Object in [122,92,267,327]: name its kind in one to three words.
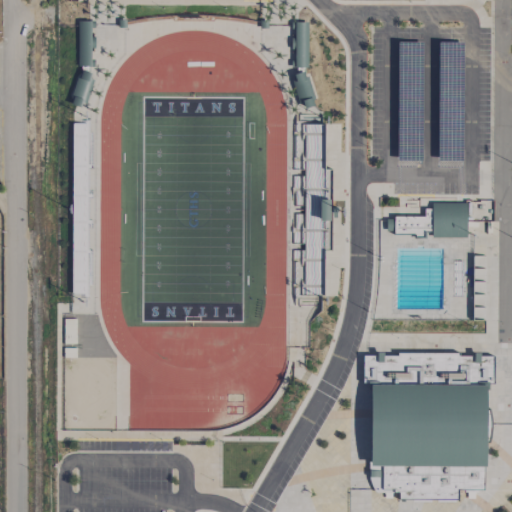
sports field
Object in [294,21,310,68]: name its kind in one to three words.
building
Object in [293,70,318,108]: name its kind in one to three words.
building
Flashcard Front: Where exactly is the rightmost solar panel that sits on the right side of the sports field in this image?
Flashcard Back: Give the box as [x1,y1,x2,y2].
[440,42,465,160]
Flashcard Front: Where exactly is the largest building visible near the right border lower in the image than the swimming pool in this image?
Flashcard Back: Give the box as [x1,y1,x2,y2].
[364,353,496,500]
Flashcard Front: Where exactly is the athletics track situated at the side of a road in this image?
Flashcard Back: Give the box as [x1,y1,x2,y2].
[101,31,288,428]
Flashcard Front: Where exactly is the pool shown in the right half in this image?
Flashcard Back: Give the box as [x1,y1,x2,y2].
[397,248,444,310]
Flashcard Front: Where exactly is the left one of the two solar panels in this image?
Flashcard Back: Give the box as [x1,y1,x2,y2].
[400,42,425,160]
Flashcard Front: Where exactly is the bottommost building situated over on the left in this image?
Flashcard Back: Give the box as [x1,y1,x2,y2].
[72,69,96,107]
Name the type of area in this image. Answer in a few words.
sports ground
